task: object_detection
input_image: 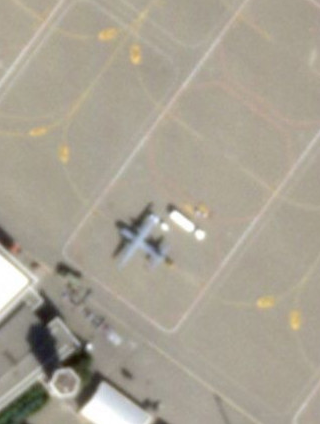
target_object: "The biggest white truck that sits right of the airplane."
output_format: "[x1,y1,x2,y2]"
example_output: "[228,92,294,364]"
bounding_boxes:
[171,213,195,234]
